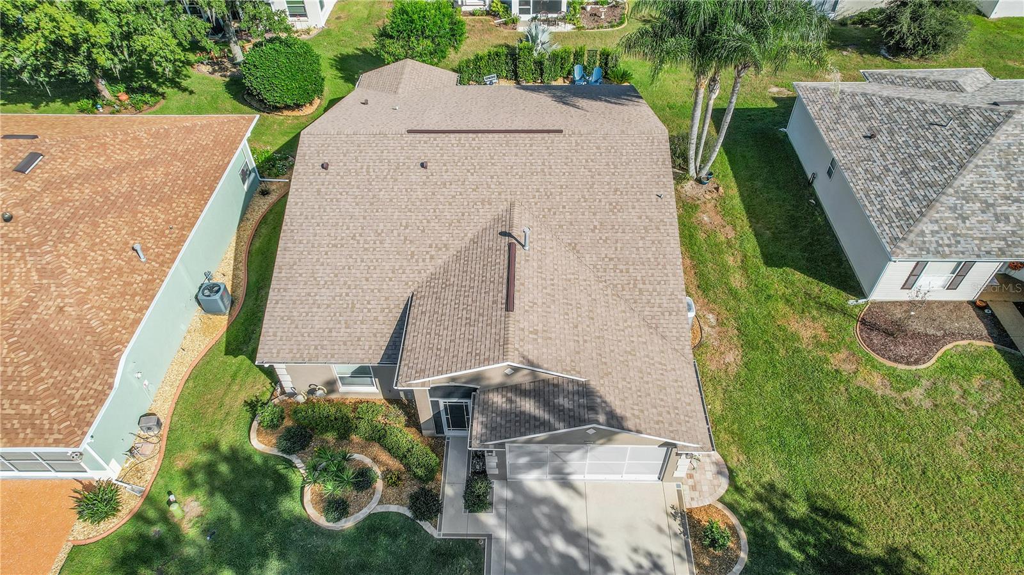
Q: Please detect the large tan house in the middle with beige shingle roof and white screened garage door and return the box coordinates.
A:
[251,57,717,484]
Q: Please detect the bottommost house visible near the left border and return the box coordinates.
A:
[0,113,292,488]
